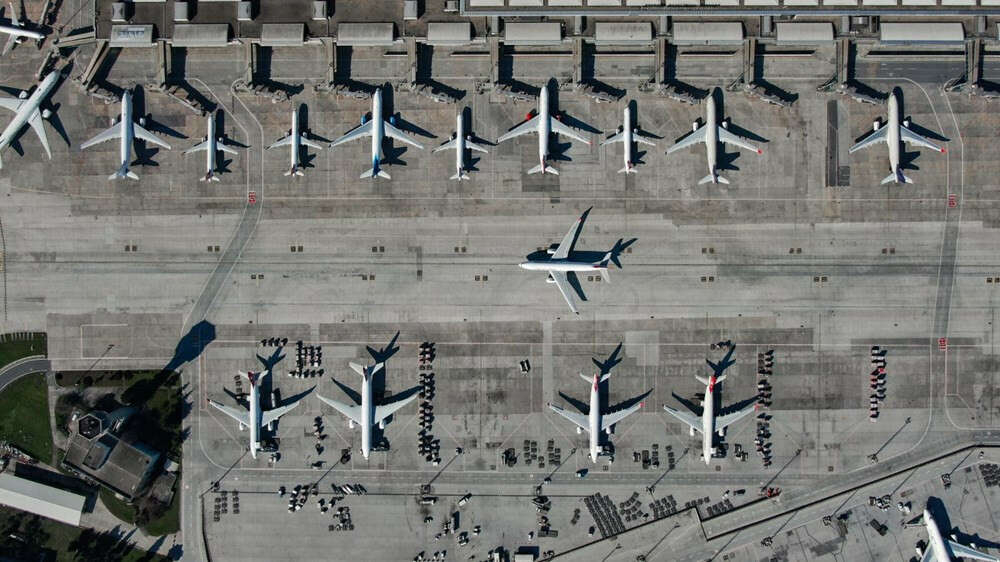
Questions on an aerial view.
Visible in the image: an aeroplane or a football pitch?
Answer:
aeroplane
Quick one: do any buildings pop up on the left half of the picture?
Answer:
Yes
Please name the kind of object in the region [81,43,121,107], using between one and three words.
jet bridge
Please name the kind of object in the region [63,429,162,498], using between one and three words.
building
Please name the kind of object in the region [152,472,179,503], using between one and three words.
house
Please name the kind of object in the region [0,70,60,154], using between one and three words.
airplane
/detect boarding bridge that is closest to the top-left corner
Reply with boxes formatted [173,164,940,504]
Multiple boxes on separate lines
[33,16,97,80]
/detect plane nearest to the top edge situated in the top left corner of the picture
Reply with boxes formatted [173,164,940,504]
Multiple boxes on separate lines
[0,1,45,57]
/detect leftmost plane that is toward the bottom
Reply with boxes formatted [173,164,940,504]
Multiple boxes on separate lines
[204,375,298,458]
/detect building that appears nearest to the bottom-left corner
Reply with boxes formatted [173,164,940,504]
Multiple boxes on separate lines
[0,466,93,527]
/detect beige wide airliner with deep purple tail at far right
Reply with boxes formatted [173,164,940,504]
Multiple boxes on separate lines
[850,92,946,184]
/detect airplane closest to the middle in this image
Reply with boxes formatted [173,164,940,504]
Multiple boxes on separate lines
[519,218,612,315]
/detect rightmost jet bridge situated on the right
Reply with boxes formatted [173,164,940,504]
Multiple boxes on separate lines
[955,43,1000,104]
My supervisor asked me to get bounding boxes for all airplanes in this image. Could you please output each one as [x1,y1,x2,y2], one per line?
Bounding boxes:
[850,92,946,184]
[430,113,488,180]
[204,375,298,458]
[600,107,656,174]
[0,70,60,154]
[547,378,643,462]
[312,364,420,459]
[264,109,322,176]
[918,508,1000,562]
[327,88,423,179]
[663,379,759,464]
[496,85,591,174]
[180,114,236,181]
[665,95,762,184]
[76,89,169,179]
[0,1,45,57]
[519,218,612,315]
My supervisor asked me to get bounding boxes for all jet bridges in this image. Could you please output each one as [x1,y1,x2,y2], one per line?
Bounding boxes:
[33,16,97,80]
[824,43,890,108]
[327,43,373,105]
[81,43,121,107]
[645,43,707,108]
[955,43,1000,104]
[565,43,622,107]
[733,43,799,108]
[482,43,540,102]
[408,43,458,108]
[244,44,291,107]
[159,44,210,117]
